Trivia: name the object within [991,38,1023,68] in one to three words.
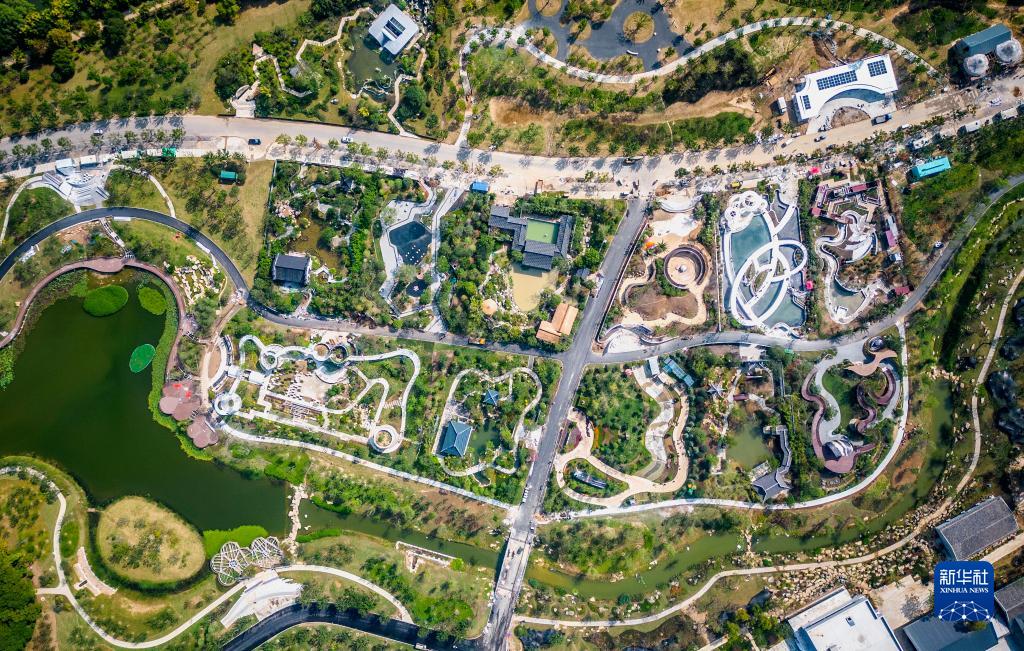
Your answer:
storage tank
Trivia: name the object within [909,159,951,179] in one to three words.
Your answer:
shed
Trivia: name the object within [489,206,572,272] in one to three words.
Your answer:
house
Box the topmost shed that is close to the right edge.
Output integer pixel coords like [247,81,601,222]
[951,23,1012,58]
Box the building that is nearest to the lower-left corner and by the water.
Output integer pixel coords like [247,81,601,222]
[209,540,253,587]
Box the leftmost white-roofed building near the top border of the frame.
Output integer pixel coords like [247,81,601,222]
[369,2,423,55]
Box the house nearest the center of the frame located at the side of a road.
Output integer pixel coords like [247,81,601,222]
[537,303,578,344]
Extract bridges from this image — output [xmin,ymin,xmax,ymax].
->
[496,517,532,603]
